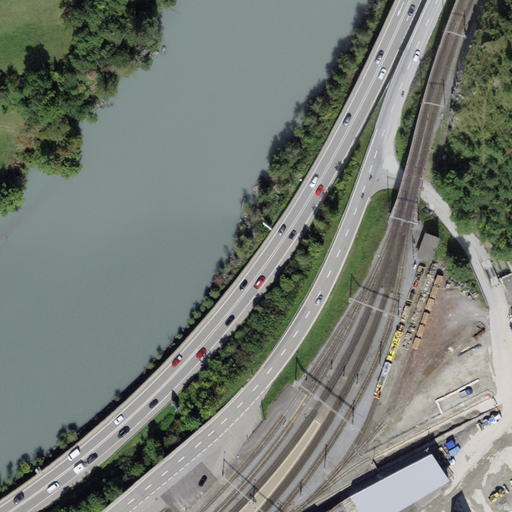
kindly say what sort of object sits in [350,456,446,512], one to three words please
building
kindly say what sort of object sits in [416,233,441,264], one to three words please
shed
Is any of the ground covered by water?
Yes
